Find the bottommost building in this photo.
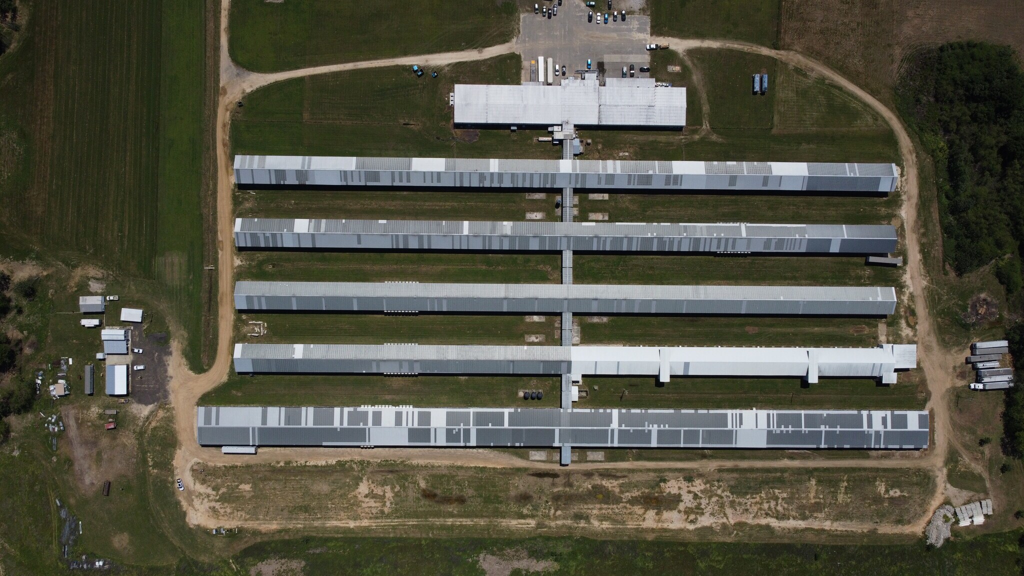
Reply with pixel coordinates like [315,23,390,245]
[196,406,931,448]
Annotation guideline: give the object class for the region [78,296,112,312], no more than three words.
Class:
house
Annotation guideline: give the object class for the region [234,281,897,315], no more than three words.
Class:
house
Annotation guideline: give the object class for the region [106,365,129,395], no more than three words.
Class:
building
